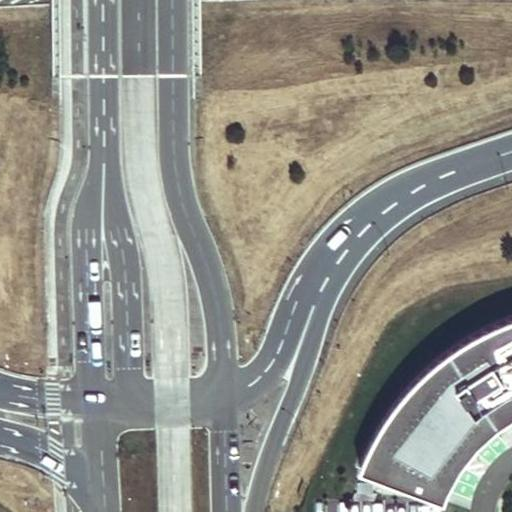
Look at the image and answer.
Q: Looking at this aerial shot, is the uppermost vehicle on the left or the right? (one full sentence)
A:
You can find the uppermost vehicle on the right side of the picture.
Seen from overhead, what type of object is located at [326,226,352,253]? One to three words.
vehicle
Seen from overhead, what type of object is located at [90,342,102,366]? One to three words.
vehicle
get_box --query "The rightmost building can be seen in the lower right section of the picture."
[358,320,512,512]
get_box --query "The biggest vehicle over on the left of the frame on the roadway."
[87,300,102,336]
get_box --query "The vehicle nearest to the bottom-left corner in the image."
[40,458,66,477]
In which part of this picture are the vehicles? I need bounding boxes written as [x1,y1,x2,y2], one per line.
[84,392,106,404]
[338,503,348,512]
[229,474,240,498]
[76,332,88,353]
[130,333,141,358]
[374,504,384,512]
[362,504,372,512]
[314,504,325,512]
[326,226,352,253]
[350,505,360,512]
[228,438,240,462]
[40,458,66,477]
[90,342,102,366]
[87,300,102,336]
[88,260,99,282]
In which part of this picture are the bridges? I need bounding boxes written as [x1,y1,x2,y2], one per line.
[52,0,204,78]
